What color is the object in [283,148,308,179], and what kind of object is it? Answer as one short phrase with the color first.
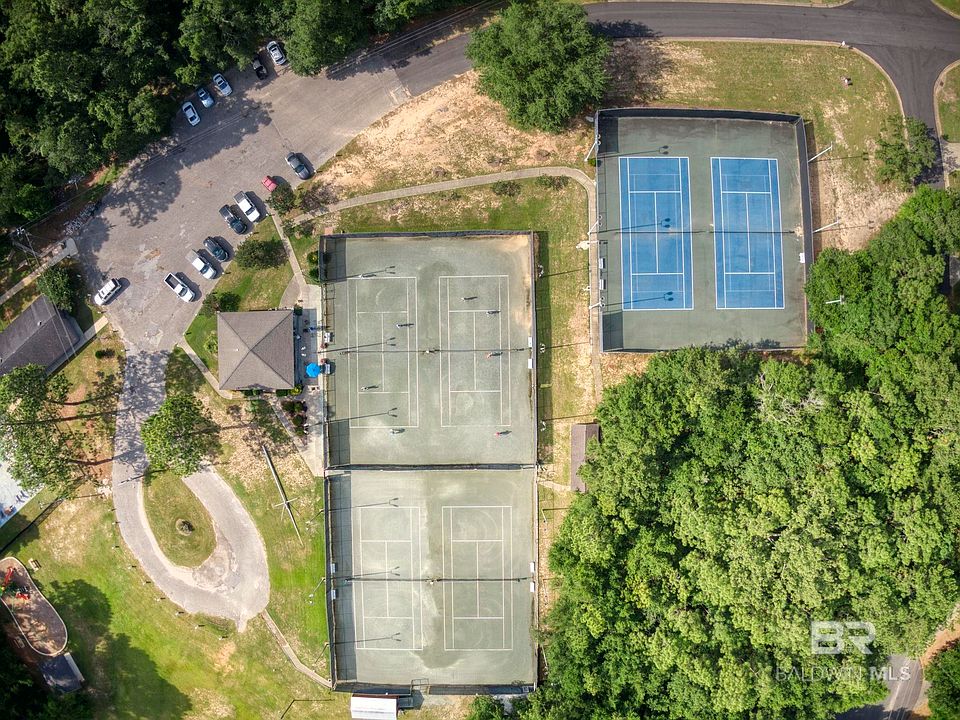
gray car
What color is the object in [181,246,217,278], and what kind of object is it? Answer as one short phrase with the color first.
white truck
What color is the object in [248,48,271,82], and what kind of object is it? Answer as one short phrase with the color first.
black truck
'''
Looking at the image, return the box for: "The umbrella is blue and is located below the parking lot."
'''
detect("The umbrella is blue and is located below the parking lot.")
[307,363,322,377]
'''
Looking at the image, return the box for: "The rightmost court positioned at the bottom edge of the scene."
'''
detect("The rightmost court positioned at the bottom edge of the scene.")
[431,467,536,686]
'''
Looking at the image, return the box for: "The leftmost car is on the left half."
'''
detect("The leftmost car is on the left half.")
[90,276,121,305]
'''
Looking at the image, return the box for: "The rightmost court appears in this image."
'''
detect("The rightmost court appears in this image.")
[699,116,807,351]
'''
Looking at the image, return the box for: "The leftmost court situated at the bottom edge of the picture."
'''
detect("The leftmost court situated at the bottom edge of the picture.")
[329,469,437,684]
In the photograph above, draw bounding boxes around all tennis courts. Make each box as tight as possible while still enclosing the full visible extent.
[325,235,431,468]
[431,467,536,686]
[329,469,437,684]
[594,115,705,352]
[429,234,536,467]
[699,116,807,351]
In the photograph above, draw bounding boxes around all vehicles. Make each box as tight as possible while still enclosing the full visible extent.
[159,269,194,304]
[215,200,247,235]
[181,246,217,278]
[199,232,229,262]
[248,48,271,82]
[231,187,260,224]
[264,38,287,68]
[194,81,215,110]
[177,97,200,128]
[283,148,308,179]
[209,68,232,98]
[90,276,121,305]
